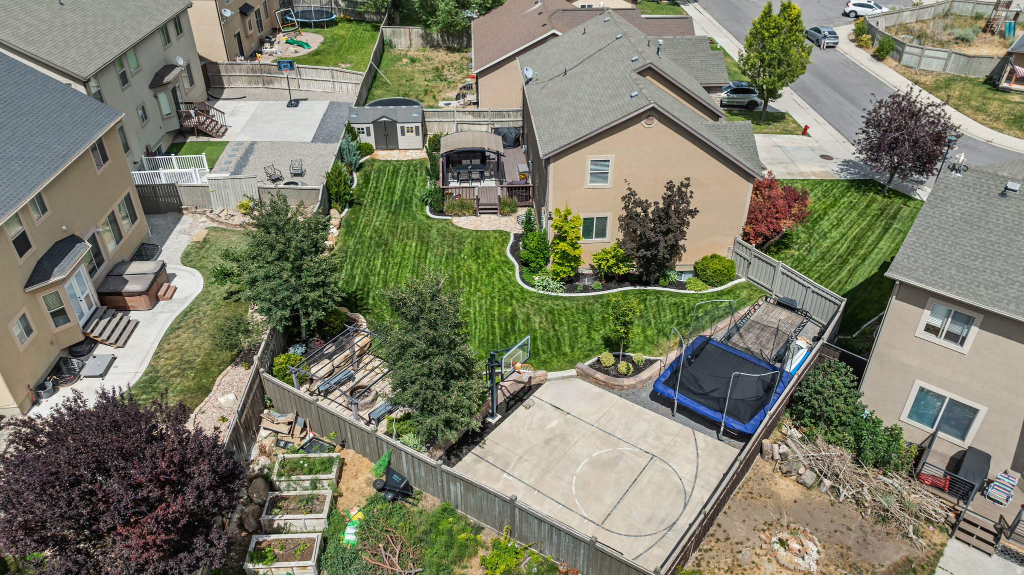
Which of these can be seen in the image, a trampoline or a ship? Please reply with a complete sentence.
There is a trampoline in the scene.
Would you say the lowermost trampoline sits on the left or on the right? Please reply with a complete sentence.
The lowermost trampoline is on the right side of the image.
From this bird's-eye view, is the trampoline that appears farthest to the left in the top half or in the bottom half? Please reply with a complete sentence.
The top half of the photo is where the trampoline that appears farthest to the left is.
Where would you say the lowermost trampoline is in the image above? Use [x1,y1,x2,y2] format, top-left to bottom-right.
[654,306,795,441]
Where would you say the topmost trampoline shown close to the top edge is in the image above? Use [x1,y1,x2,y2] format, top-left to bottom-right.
[288,0,334,27]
